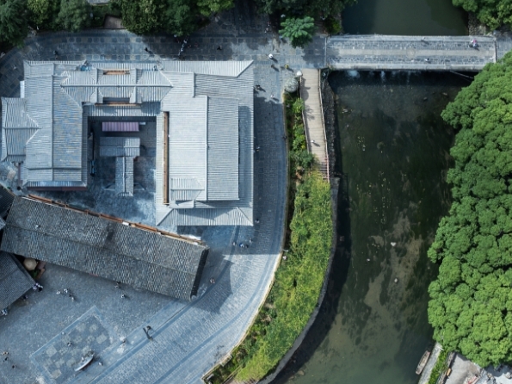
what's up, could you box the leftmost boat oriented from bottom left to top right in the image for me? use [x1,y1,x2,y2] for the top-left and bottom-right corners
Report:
[73,355,95,373]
